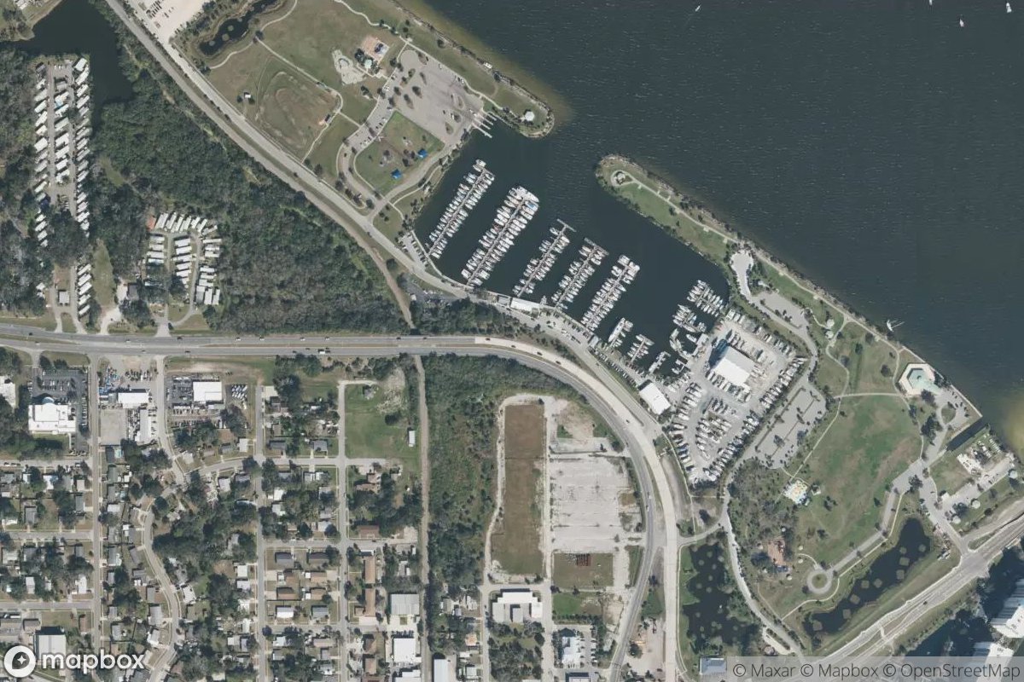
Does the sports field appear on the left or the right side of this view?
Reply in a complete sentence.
The sports field sits on the left side.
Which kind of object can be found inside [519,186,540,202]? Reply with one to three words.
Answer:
boat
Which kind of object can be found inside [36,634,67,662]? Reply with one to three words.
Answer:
building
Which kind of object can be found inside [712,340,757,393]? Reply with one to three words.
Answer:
shed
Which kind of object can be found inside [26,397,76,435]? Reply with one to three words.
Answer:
building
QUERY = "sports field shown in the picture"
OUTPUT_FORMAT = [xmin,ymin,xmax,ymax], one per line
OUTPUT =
[259,71,338,152]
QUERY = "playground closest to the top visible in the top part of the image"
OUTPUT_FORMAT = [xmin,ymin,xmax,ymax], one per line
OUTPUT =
[361,36,390,62]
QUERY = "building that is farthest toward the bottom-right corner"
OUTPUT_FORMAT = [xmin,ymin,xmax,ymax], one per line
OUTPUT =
[965,640,1013,682]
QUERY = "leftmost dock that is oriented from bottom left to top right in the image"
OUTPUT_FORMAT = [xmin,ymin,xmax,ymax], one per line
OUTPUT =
[424,166,495,255]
